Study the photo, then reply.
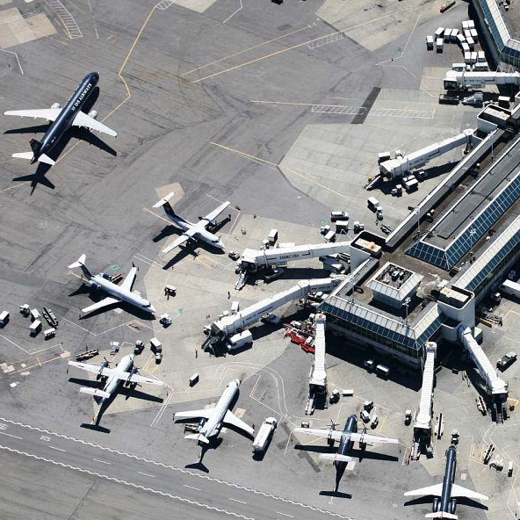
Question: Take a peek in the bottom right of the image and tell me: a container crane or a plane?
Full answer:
It is a plane that can be seen in the bottom right of the image.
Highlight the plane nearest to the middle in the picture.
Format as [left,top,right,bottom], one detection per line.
[154,193,231,252]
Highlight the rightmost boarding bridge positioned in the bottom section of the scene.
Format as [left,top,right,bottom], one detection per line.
[461,322,507,423]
